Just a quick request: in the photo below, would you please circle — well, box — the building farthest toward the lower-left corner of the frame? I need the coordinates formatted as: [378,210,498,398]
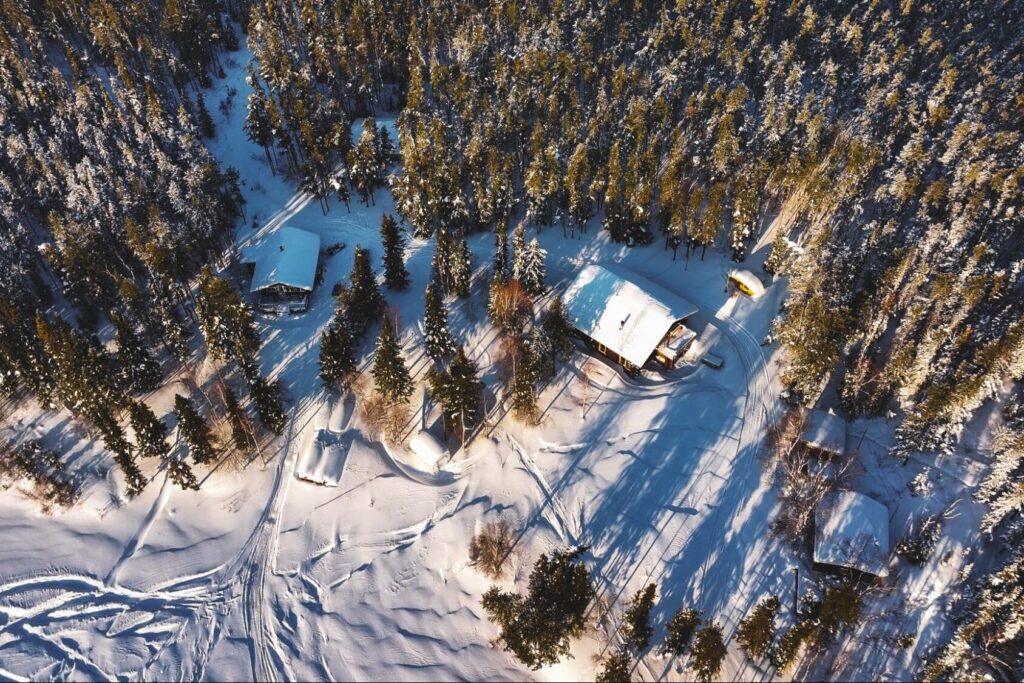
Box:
[288,428,352,488]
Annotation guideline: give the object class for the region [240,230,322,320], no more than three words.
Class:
building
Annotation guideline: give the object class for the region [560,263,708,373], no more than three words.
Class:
building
